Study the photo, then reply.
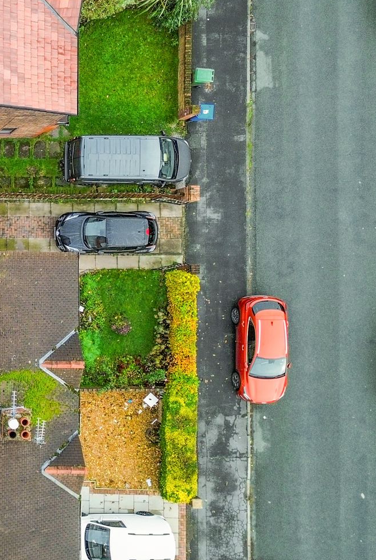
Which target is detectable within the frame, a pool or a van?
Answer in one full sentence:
There is a van in the scene.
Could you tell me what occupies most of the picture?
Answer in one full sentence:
The largest share of the image is taken up by paved ground.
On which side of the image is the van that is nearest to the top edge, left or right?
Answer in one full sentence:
It is on the left.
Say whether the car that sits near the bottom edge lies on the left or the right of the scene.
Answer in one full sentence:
You can find the car that sits near the bottom edge on the left side of the picture.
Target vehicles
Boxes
[61,129,192,192]
[51,204,162,258]
[82,507,173,560]
[229,295,295,403]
